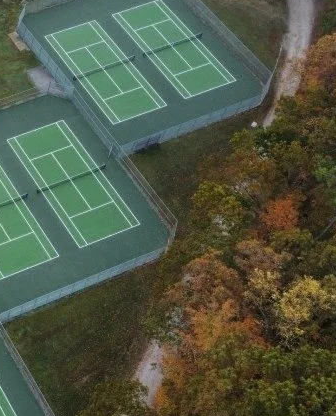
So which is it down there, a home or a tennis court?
tennis court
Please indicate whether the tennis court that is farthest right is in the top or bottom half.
top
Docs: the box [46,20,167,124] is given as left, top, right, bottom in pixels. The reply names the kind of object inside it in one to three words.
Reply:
tennis court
